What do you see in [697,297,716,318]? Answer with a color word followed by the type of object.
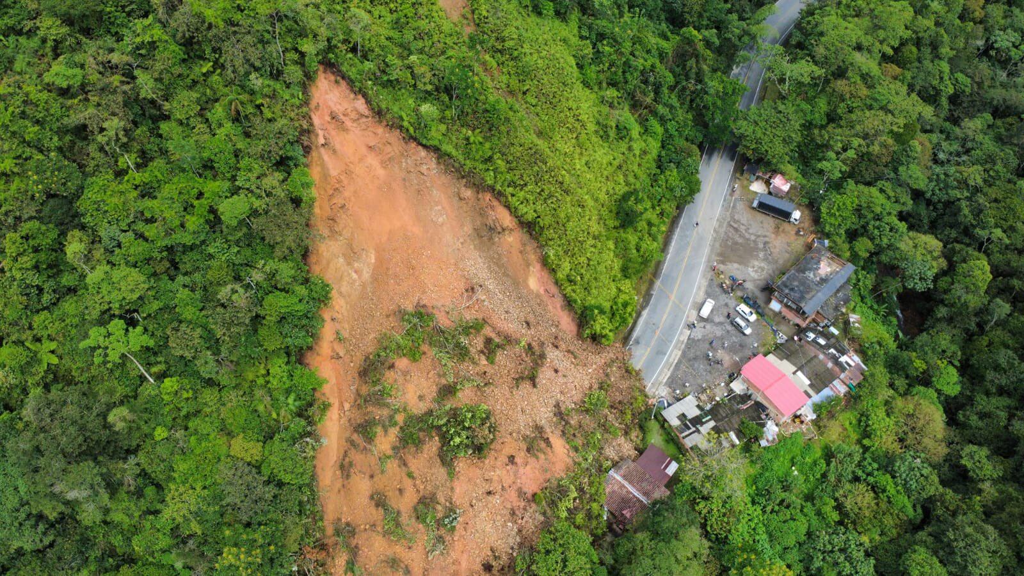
white vehicle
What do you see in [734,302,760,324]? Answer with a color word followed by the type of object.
white car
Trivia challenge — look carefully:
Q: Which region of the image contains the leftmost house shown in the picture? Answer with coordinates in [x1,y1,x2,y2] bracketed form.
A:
[604,444,678,526]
